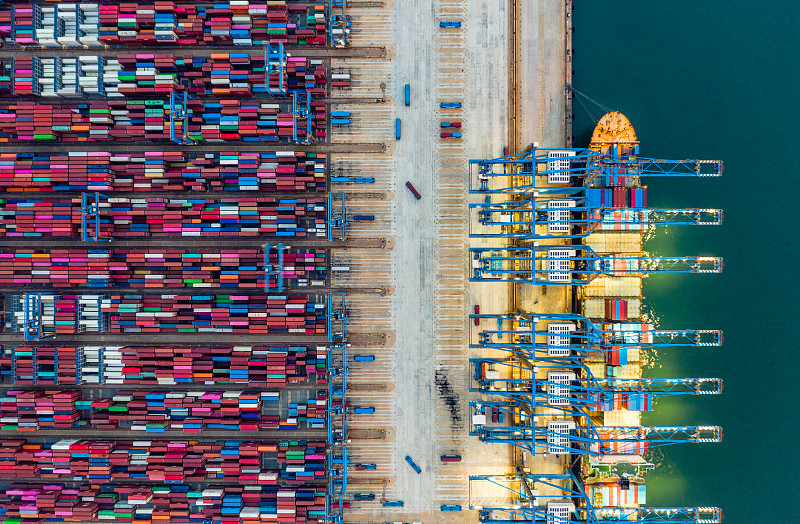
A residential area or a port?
port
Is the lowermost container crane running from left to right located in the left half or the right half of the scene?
right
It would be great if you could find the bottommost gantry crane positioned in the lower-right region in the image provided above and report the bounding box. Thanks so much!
[470,462,724,524]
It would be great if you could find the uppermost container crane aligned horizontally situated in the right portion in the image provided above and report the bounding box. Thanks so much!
[470,141,724,200]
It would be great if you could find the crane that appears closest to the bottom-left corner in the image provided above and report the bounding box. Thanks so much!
[17,291,60,340]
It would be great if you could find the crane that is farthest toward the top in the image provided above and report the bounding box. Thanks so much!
[324,0,352,48]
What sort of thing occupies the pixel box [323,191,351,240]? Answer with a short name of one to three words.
crane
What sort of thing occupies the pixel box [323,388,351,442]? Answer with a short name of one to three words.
crane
